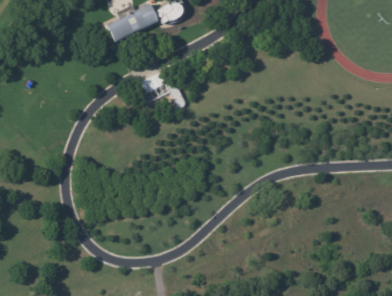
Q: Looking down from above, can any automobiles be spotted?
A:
No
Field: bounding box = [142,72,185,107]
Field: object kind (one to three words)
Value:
house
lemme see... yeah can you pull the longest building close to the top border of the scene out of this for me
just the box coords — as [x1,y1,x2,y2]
[107,6,159,42]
